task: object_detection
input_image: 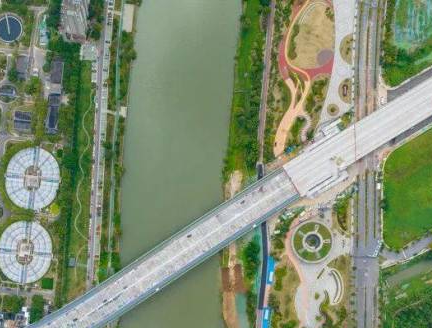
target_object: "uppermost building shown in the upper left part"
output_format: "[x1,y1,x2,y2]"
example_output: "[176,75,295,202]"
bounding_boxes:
[55,0,90,44]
